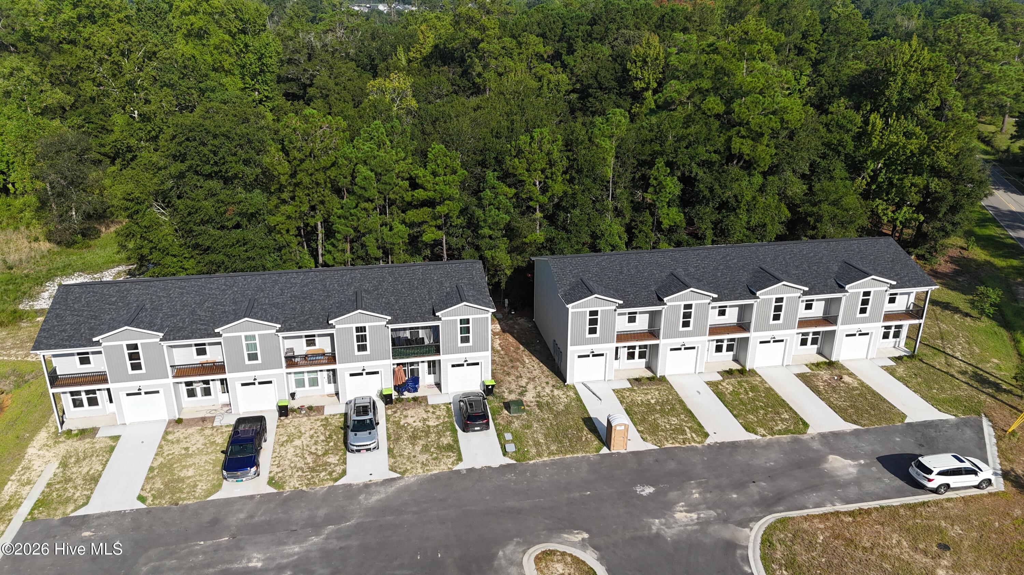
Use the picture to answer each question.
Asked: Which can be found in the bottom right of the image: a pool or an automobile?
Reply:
automobile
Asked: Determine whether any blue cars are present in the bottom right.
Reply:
No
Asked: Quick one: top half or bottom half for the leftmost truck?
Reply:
bottom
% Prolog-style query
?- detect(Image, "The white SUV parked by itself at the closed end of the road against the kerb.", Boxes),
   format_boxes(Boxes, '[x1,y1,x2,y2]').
[908,453,997,494]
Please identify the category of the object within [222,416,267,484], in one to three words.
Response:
truck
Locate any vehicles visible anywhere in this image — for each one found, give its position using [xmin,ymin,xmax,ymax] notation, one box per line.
[346,400,381,454]
[908,453,997,494]
[222,416,267,484]
[458,393,489,433]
